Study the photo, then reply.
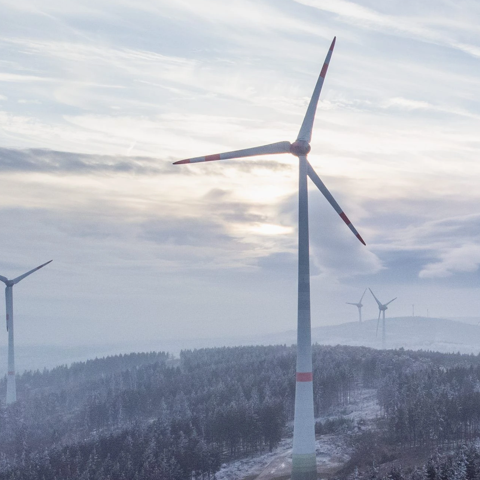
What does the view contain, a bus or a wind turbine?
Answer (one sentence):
It is a wind turbine that can be seen here.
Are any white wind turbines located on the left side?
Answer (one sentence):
No, I see no white wind turbine on the left side.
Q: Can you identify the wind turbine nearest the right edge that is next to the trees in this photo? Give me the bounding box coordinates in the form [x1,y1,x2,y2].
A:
[371,291,396,357]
